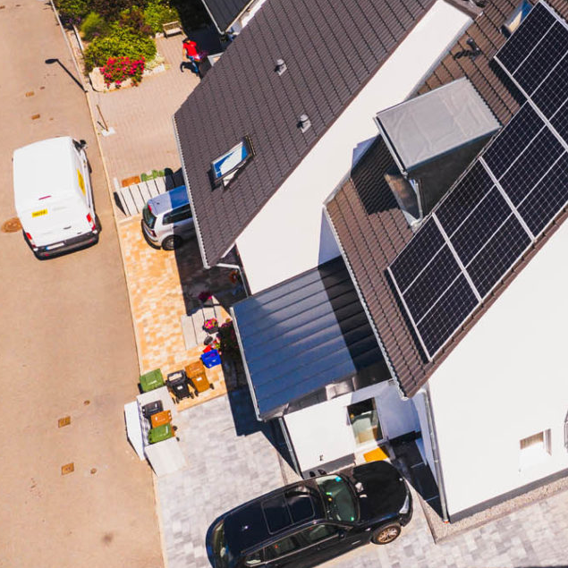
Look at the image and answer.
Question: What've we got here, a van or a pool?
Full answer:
Looking from above, you can make out a van.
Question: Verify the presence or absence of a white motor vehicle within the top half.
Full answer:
Yes, the scene does show a white motor vehicle within the top half.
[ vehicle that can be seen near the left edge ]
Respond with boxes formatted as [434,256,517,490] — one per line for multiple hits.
[7,130,96,250]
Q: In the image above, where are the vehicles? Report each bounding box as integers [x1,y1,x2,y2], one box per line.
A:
[132,184,197,249]
[207,451,410,568]
[7,130,96,250]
